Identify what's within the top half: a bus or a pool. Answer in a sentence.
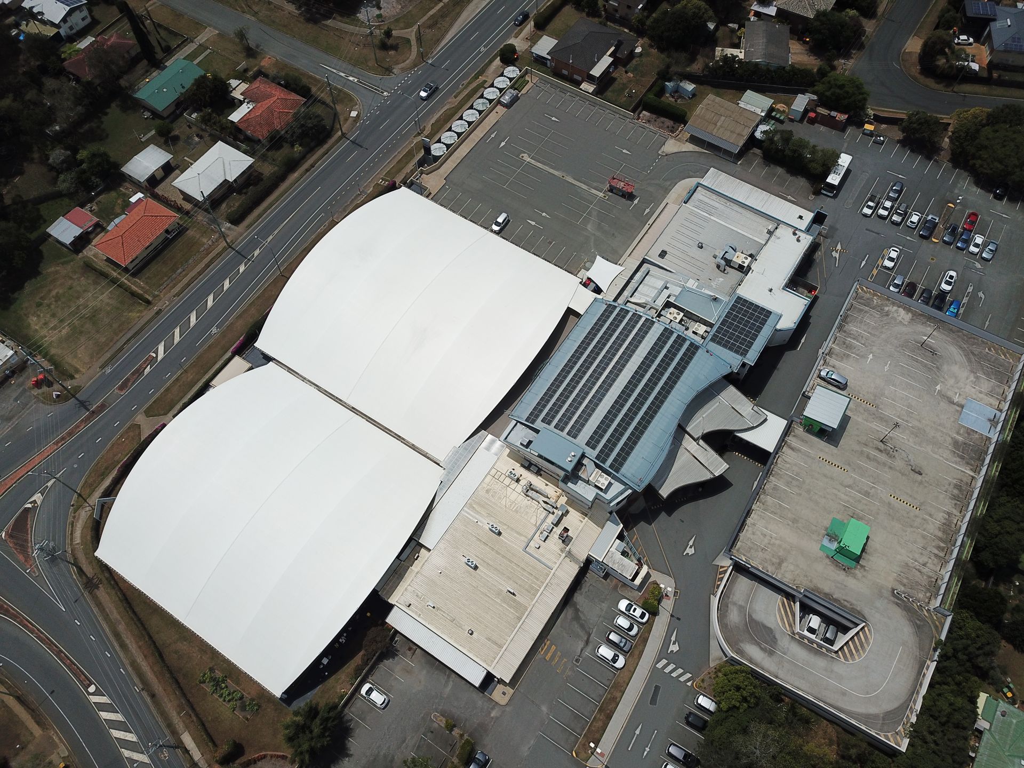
You can see a bus within the top half.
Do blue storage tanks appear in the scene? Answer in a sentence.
No, I find no blue storage tank anywhere in the image.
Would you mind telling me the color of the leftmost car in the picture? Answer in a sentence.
The leftmost car is white.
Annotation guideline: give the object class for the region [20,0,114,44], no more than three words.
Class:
house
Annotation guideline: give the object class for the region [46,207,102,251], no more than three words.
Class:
shed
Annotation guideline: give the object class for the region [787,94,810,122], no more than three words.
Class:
building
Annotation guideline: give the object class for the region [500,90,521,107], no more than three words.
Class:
vehicle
